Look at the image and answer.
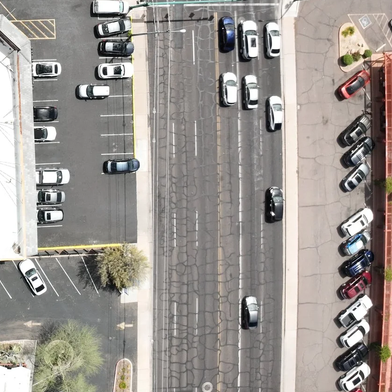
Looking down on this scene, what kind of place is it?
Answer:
parking lot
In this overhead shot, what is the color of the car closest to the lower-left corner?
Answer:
white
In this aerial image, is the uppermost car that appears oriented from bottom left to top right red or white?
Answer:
red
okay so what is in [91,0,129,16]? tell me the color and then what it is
white vehicle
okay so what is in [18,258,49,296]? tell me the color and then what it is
white car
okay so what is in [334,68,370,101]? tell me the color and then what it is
red car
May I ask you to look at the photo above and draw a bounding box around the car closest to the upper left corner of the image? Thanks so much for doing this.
[31,62,62,77]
